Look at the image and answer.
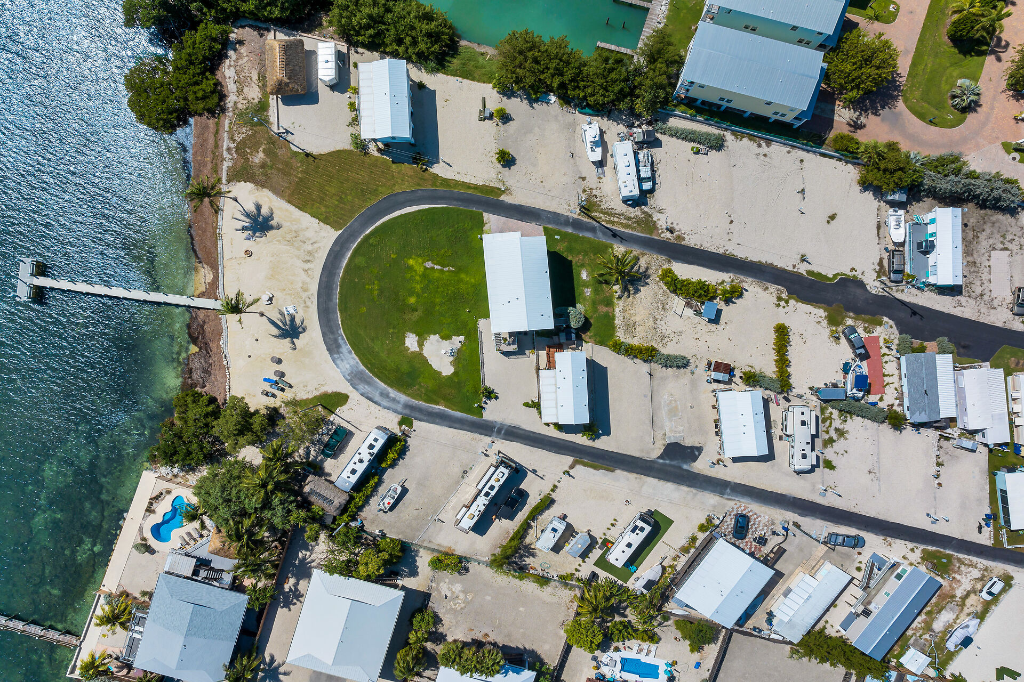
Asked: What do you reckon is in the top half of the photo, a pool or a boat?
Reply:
boat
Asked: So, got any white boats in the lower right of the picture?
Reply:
Yes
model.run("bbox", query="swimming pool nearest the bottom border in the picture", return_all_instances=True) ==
[601,650,671,682]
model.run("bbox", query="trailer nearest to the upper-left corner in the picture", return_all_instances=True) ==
[318,43,340,95]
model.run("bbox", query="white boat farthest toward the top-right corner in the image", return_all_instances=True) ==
[885,204,906,243]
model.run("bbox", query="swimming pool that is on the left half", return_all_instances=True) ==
[141,487,214,553]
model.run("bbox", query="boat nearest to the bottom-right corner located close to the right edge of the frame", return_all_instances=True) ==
[938,620,980,655]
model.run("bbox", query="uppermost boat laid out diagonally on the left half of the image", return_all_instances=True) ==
[375,485,400,516]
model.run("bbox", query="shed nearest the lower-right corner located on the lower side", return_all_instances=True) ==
[892,639,930,675]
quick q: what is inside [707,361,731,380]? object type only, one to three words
shed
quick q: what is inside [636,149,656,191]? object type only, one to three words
vehicle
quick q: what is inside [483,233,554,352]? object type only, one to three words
house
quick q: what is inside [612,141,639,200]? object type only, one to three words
trailer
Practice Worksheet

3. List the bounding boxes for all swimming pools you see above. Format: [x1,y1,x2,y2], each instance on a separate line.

[141,487,214,553]
[601,650,671,682]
